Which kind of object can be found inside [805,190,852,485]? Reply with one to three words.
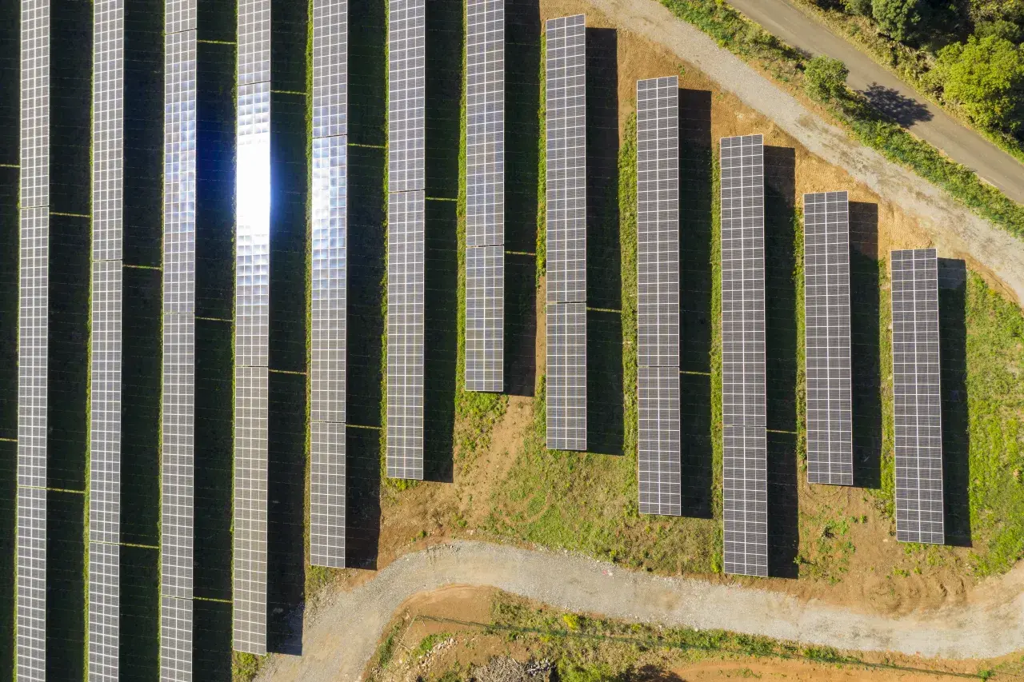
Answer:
solar array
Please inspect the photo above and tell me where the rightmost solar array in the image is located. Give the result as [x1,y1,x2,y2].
[893,248,942,545]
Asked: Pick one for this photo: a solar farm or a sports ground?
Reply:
solar farm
